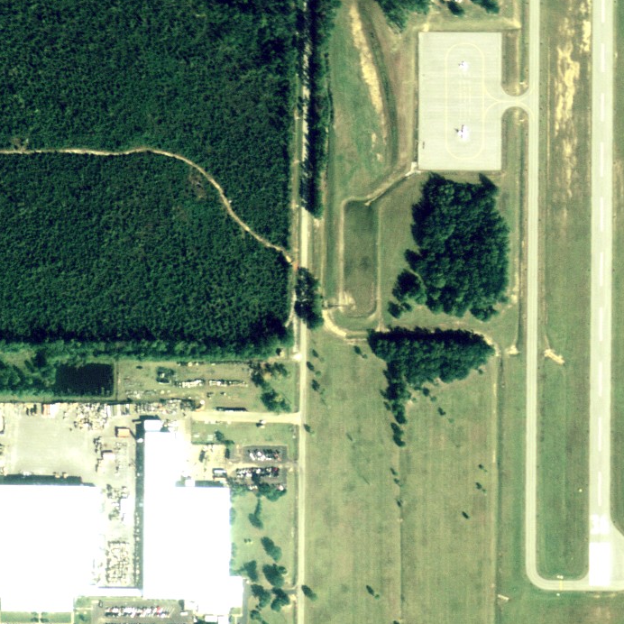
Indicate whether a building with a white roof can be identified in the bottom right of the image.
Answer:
No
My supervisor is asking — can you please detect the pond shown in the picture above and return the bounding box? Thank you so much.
[55,364,114,395]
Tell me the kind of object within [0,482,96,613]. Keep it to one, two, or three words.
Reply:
building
